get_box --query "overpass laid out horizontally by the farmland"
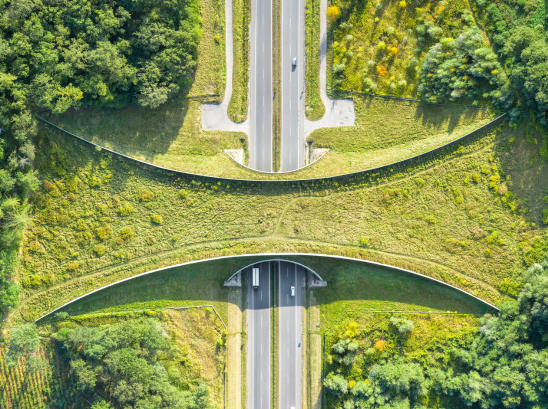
[35,113,506,323]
